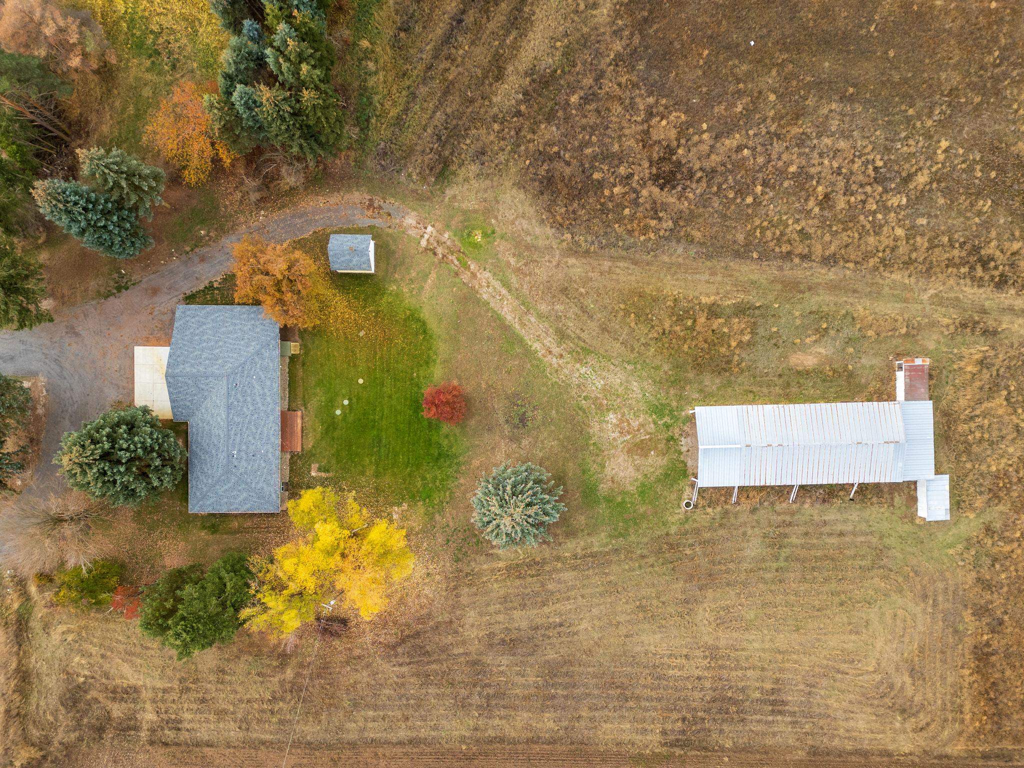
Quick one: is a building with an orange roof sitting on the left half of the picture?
No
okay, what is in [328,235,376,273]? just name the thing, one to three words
shed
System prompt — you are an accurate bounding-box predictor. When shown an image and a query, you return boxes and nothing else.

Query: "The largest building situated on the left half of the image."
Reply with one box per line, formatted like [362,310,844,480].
[165,305,281,514]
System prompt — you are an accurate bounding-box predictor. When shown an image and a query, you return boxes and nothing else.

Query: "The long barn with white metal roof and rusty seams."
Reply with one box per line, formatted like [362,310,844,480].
[688,402,910,503]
